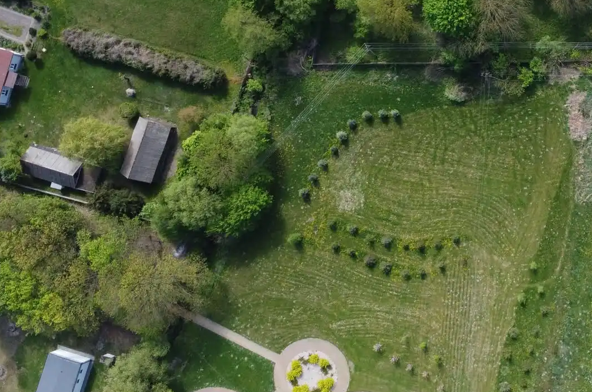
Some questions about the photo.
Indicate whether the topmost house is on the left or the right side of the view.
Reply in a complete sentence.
The topmost house appears in the left half of the scene.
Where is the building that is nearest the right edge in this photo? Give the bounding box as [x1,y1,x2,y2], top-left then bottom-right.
[120,118,176,183]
